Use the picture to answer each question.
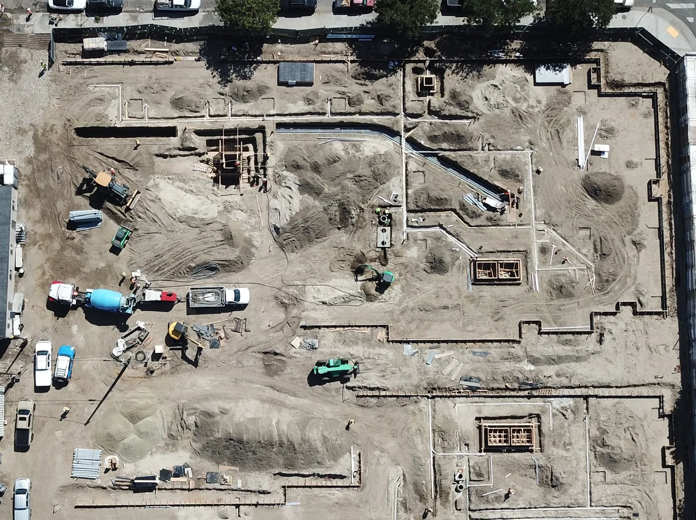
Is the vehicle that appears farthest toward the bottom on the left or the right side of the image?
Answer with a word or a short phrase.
left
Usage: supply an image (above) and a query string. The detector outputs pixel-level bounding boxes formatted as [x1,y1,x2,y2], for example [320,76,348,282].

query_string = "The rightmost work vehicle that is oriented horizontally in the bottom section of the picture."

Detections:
[313,358,369,381]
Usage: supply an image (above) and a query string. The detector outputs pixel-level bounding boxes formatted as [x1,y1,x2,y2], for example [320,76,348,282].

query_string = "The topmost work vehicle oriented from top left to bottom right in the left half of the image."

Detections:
[79,163,133,207]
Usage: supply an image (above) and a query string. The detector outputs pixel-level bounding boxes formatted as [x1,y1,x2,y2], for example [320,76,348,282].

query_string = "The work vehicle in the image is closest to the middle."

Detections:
[357,260,394,289]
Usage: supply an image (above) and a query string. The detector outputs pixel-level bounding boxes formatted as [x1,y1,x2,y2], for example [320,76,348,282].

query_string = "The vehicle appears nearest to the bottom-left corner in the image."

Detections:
[13,479,34,520]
